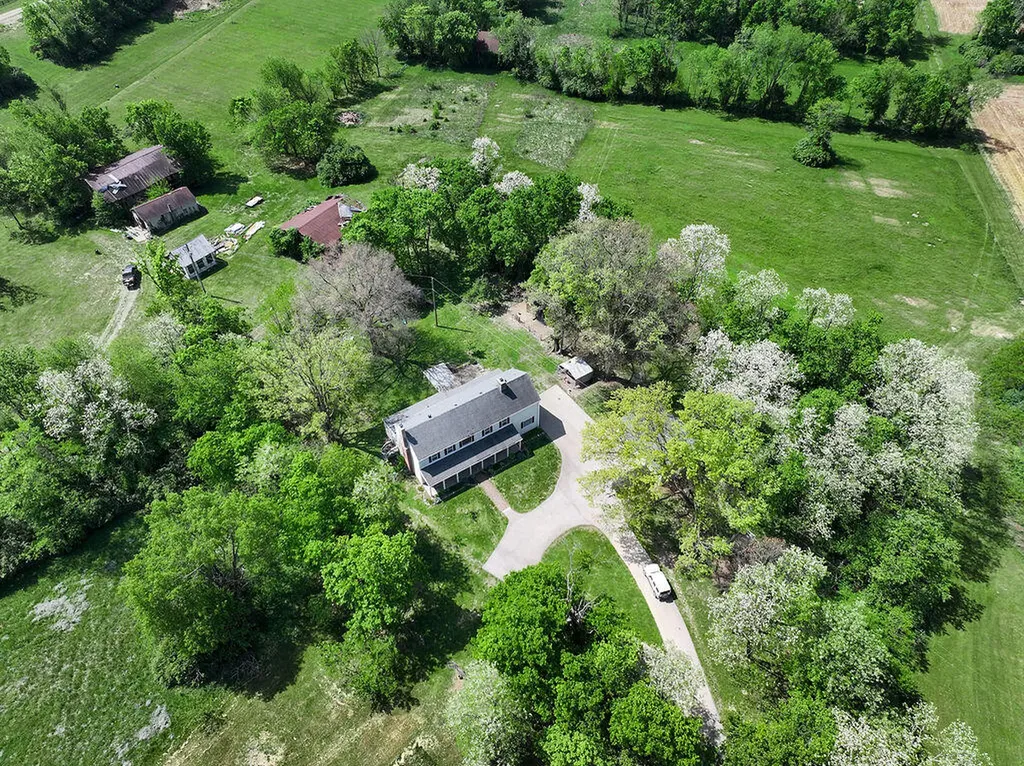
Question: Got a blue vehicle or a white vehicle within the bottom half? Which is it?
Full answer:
The feature located within the bottom half is a white vehicle.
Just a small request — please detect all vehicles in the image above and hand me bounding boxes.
[641,563,677,602]
[119,261,138,285]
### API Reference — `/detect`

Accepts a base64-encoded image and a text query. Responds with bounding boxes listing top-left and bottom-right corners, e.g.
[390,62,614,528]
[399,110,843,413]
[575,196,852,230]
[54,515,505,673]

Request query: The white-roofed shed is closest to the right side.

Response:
[557,356,594,392]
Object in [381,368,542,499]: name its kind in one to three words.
house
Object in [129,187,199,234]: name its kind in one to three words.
barn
